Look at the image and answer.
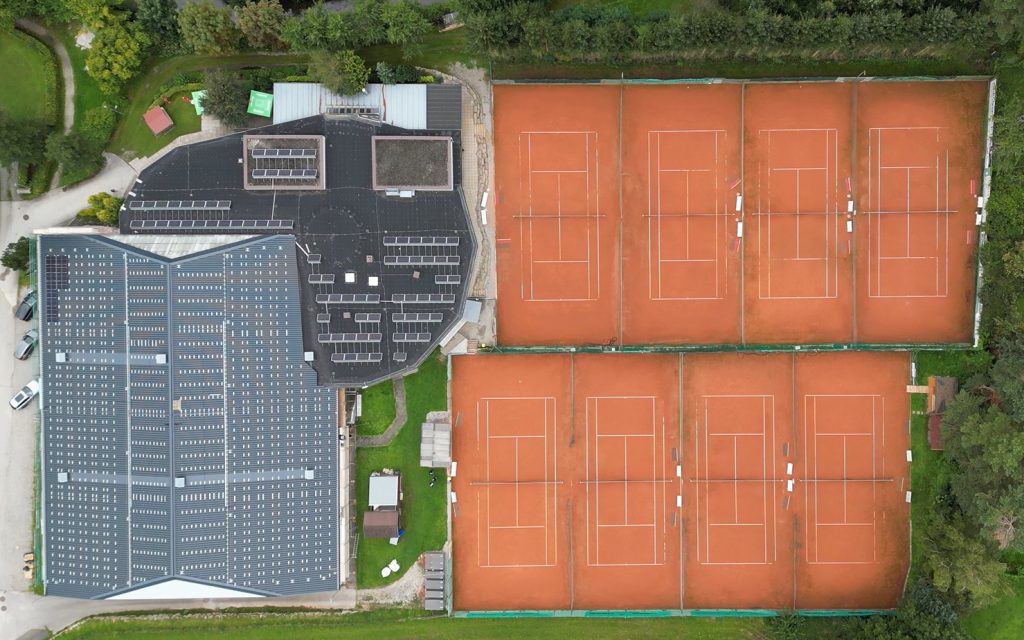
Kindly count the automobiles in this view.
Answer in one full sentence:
My tally gives 3 automobiles in this view.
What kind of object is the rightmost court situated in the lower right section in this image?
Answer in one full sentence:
Looking closely, the rightmost court situated in the lower right section is a tennis court.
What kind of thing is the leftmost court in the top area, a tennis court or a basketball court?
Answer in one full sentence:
I'd say the leftmost court in the top area is a tennis court.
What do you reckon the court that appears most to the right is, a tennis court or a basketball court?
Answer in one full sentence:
Specifically, the court that appears most to the right is a tennis court.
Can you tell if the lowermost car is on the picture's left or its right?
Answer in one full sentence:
The lowermost car appears in the left half of the scene.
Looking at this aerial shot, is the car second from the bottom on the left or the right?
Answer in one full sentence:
The car second from the bottom is on the left side of the image.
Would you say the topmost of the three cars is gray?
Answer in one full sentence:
Yes, the topmost of the three cars is indeed gray.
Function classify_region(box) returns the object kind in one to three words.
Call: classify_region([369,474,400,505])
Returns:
building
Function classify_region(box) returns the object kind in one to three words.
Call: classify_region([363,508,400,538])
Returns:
shed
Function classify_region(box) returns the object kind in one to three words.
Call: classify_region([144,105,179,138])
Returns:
shed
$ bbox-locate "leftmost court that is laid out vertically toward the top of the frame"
[494,84,622,346]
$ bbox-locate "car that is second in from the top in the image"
[14,329,39,361]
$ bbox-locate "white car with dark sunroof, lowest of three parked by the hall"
[9,378,40,410]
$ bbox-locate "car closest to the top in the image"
[13,288,39,320]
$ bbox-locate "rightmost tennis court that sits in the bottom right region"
[794,353,912,609]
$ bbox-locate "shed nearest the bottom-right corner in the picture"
[928,414,946,450]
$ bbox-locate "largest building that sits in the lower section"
[38,234,353,599]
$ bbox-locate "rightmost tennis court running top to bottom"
[855,81,988,345]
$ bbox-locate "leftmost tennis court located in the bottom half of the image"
[453,355,572,610]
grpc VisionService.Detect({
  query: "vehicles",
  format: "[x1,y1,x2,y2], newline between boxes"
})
[13,288,39,320]
[9,378,40,410]
[14,329,39,361]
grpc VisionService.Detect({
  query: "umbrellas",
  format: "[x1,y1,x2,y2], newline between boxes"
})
[189,91,214,116]
[249,92,274,117]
